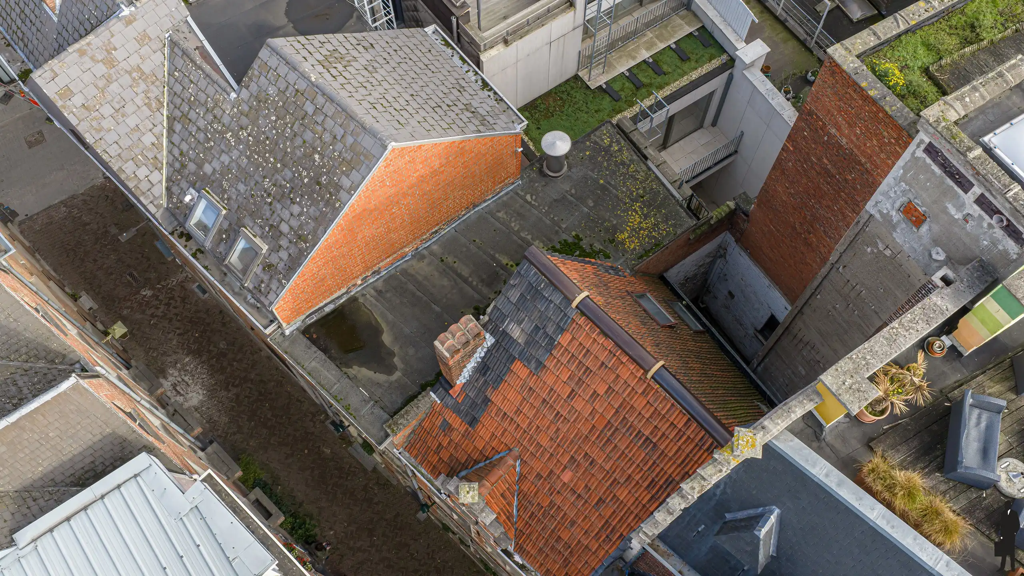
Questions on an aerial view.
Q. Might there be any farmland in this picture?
No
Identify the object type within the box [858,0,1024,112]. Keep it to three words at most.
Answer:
building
